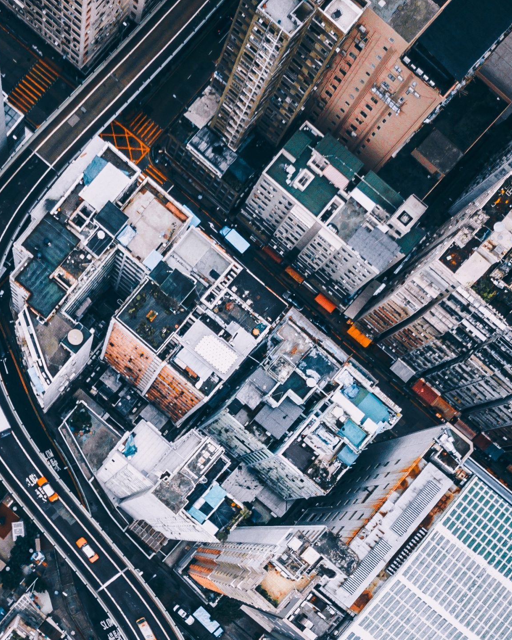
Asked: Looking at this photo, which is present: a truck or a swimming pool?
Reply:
truck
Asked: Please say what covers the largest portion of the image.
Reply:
buildings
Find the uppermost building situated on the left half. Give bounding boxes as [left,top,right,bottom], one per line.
[0,0,148,71]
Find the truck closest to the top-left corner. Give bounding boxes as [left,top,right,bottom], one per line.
[190,209,214,233]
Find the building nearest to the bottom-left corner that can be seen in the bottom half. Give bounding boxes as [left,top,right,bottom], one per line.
[0,592,60,640]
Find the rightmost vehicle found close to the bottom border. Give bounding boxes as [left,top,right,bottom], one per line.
[187,602,224,640]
